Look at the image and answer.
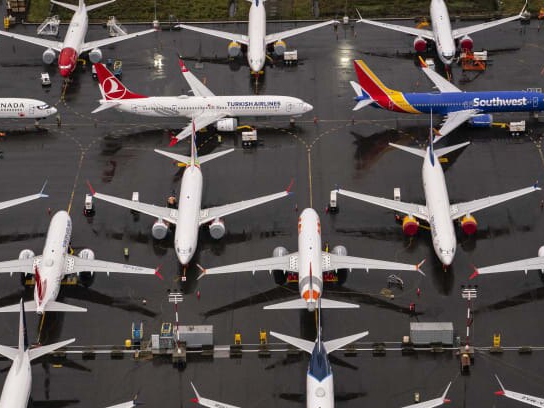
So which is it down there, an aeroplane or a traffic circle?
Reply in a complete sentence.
Of the two, only an aeroplane appears.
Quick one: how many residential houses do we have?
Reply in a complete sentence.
There are no residential houses in the image.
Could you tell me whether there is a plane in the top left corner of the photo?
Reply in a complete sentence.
Yes, you'll find a plane in the top left corner of the photo.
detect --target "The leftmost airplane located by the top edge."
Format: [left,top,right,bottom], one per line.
[0,0,163,82]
